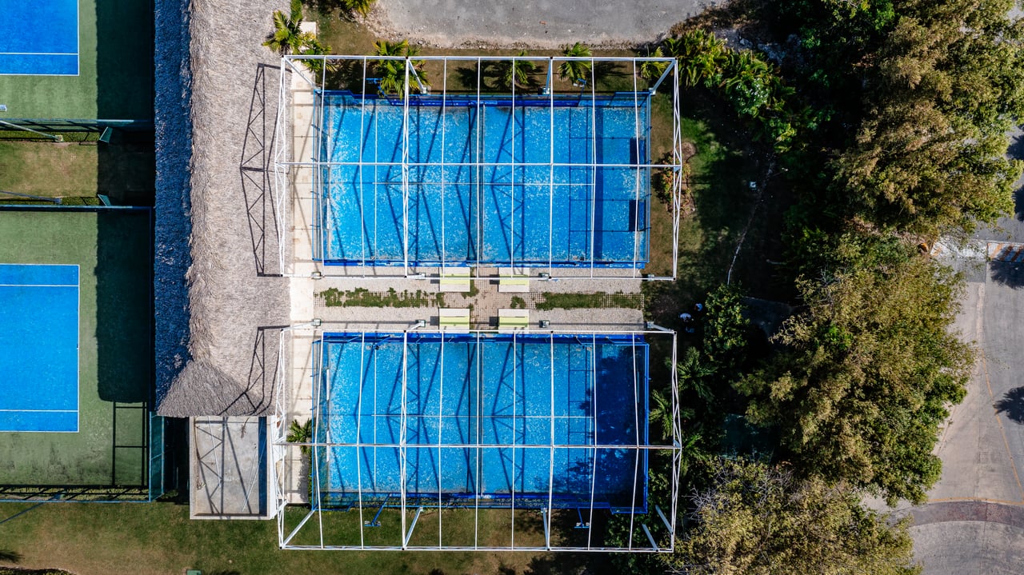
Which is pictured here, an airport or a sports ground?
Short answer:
sports ground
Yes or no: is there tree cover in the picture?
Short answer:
Yes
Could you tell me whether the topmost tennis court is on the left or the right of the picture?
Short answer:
left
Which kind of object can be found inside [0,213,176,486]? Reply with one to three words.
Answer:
tennis court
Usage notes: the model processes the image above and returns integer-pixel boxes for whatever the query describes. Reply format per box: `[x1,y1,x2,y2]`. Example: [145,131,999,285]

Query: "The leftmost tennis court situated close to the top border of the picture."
[0,0,155,131]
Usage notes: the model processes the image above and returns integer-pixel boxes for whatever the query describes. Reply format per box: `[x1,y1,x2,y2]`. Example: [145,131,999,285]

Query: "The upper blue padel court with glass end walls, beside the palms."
[307,90,655,267]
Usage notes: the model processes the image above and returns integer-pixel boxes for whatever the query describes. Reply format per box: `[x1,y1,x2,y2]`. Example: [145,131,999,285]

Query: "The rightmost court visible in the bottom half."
[307,333,655,512]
